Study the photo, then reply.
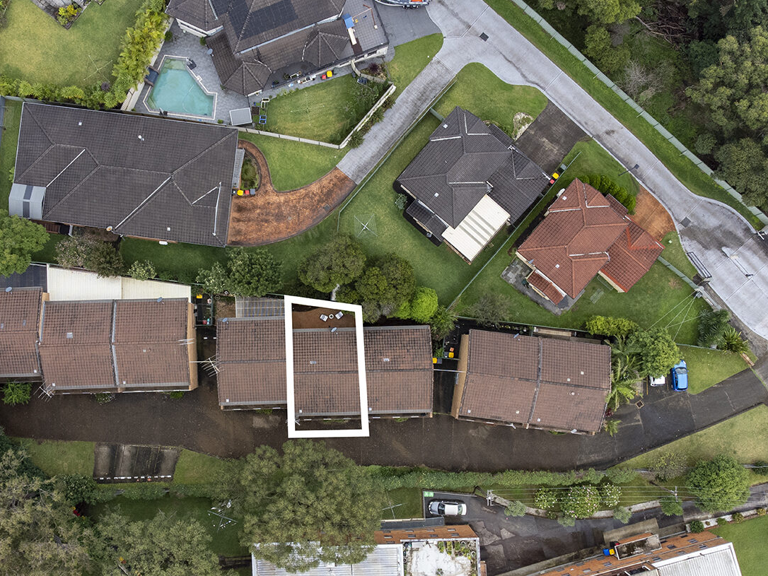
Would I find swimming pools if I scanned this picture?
Yes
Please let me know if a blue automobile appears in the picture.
Yes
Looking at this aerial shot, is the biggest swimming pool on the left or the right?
left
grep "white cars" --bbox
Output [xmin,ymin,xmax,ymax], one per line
[648,360,666,389]
[427,500,466,516]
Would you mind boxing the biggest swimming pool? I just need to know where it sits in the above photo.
[141,54,218,119]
